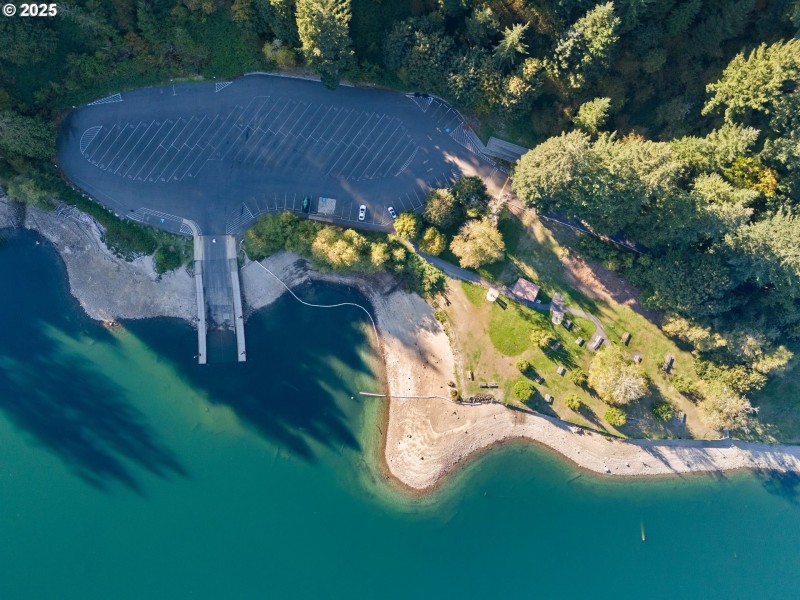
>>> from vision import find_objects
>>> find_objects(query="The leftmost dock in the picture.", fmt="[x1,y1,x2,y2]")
[194,235,206,364]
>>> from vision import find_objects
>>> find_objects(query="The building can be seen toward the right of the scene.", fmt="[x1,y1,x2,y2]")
[512,277,539,301]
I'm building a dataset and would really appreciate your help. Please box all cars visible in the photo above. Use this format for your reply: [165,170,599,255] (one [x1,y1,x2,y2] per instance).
[302,195,309,211]
[359,204,366,221]
[387,205,396,220]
